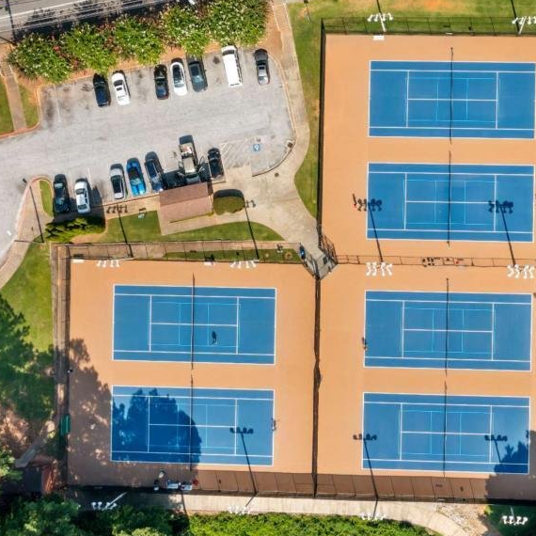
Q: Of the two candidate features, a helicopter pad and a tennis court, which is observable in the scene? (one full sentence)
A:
Of the two, only a tennis court appears.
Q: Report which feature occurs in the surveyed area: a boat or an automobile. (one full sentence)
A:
Of the two, only an automobile appears.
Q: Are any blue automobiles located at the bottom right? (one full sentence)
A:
No, there is no blue automobile at the bottom right.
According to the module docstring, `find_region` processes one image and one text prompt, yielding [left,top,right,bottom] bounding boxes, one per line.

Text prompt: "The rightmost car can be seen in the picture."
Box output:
[254,50,270,85]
